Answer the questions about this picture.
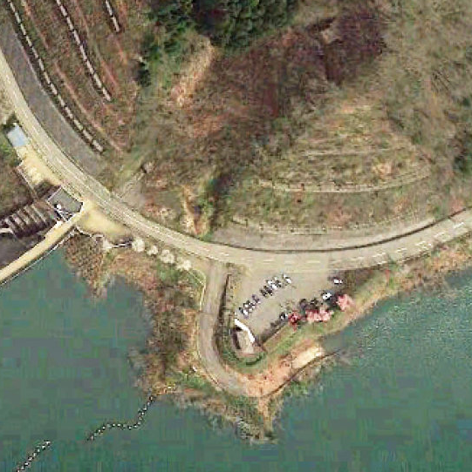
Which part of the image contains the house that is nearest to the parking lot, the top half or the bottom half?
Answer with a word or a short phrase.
bottom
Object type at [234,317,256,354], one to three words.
house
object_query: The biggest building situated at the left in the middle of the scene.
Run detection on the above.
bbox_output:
[48,186,83,218]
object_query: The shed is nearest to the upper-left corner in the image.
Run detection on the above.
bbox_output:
[7,123,30,149]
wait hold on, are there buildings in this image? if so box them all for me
[234,317,256,354]
[48,186,83,218]
[7,123,30,149]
